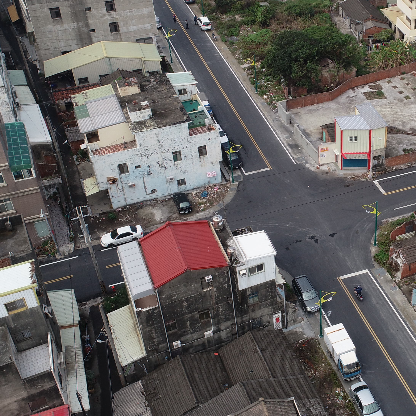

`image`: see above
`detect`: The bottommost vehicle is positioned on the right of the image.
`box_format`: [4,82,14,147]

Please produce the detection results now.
[350,379,383,416]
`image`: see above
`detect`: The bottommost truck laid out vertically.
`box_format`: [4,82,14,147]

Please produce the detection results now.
[321,309,359,379]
